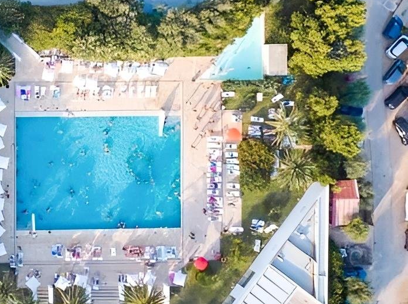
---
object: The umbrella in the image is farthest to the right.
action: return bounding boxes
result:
[226,127,242,142]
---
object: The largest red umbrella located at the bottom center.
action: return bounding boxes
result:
[193,256,209,271]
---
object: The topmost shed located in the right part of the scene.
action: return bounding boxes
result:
[256,43,289,75]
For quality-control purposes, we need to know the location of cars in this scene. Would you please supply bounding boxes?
[384,58,408,85]
[384,15,406,41]
[339,104,368,118]
[387,85,408,109]
[387,34,408,58]
[394,116,408,144]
